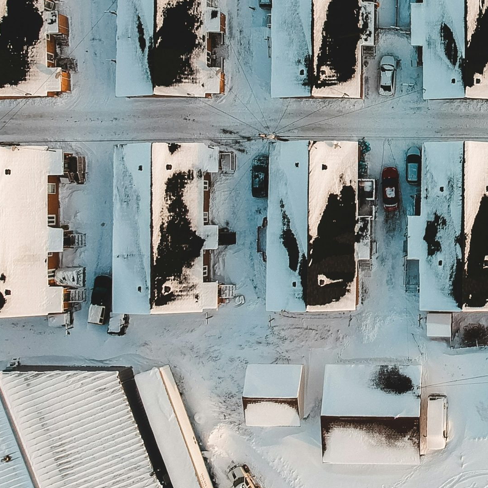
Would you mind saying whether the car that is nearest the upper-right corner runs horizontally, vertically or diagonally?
vertically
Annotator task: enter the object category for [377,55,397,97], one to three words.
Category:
car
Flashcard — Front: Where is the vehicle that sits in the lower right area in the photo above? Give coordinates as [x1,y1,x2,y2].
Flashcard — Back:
[424,394,448,449]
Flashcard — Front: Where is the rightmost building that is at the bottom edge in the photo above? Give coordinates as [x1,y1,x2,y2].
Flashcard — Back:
[320,362,423,465]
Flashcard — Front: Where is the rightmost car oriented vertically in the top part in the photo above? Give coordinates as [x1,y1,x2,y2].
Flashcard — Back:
[404,146,422,185]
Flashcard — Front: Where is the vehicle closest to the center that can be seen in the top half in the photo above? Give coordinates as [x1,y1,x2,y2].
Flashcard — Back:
[248,155,267,198]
